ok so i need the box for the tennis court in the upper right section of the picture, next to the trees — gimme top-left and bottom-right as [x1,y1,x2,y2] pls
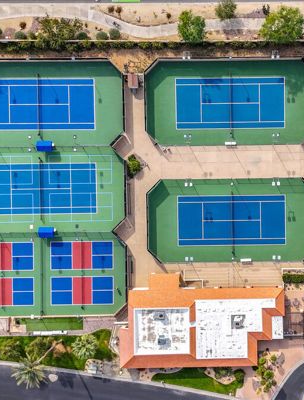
[147,61,304,147]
